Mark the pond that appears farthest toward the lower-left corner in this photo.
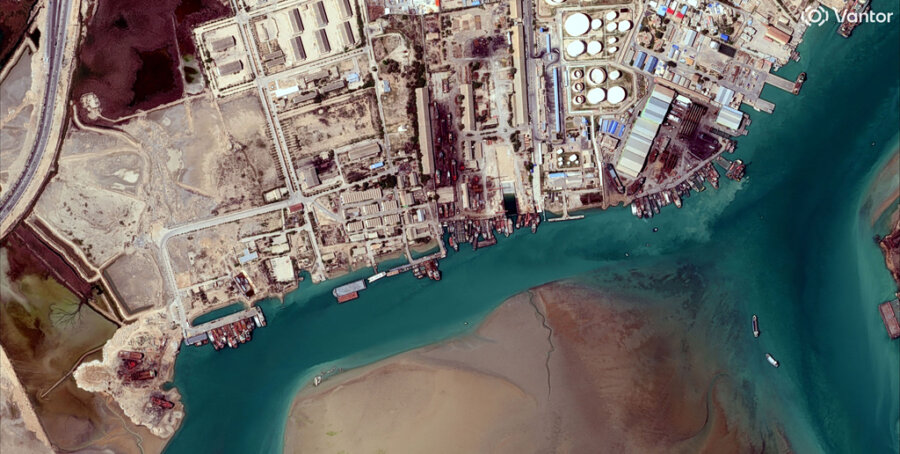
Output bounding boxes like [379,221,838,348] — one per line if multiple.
[0,235,157,454]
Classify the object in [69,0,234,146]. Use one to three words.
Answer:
pond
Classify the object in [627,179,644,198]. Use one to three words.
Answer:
ship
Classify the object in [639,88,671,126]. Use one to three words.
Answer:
building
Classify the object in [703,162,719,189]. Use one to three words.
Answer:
vessel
